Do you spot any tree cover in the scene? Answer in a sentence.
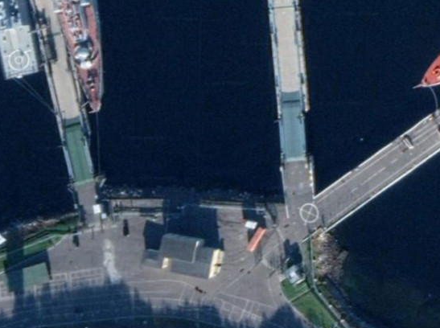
No, the picture contains no tree cover.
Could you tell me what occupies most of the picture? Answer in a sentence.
The bulk of the photo consists of water.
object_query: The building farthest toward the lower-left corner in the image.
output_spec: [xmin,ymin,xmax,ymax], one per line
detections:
[3,263,54,291]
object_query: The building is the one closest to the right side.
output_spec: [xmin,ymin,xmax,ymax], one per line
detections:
[285,265,309,285]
